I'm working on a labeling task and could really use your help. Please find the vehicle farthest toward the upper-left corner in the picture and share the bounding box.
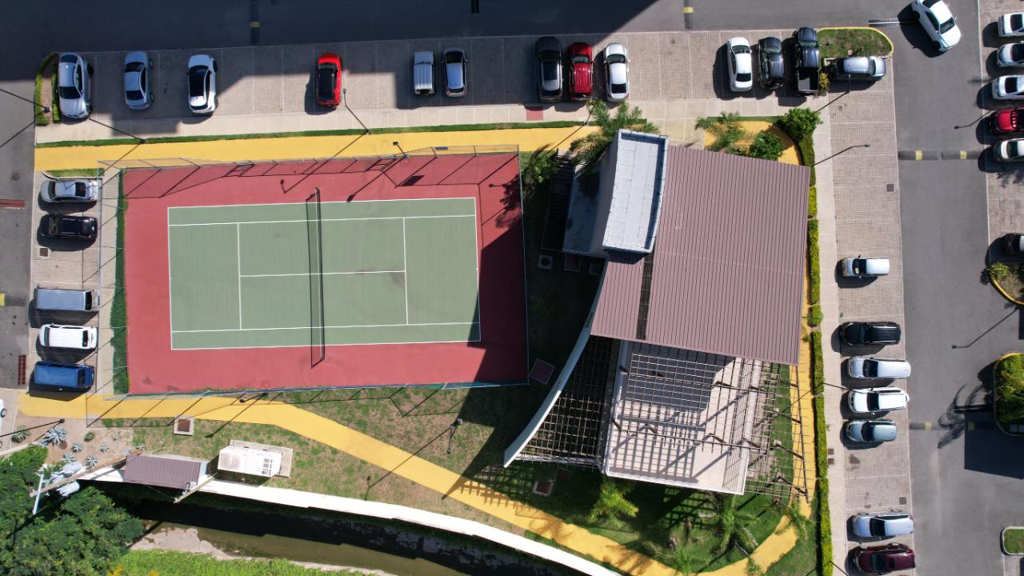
[54,51,90,118]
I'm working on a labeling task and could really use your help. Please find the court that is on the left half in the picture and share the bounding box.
[121,153,528,394]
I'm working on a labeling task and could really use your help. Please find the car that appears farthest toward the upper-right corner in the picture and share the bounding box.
[997,12,1024,39]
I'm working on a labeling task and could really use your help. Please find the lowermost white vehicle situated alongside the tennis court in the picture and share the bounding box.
[40,322,99,351]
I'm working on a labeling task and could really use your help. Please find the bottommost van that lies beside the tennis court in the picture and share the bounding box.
[34,362,99,391]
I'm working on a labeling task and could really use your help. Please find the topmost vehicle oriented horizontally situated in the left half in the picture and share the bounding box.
[39,176,99,204]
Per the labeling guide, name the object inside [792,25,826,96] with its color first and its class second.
black truck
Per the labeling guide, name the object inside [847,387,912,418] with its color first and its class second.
white car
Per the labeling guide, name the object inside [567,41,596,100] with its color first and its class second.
red car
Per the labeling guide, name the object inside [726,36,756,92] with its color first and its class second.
white car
